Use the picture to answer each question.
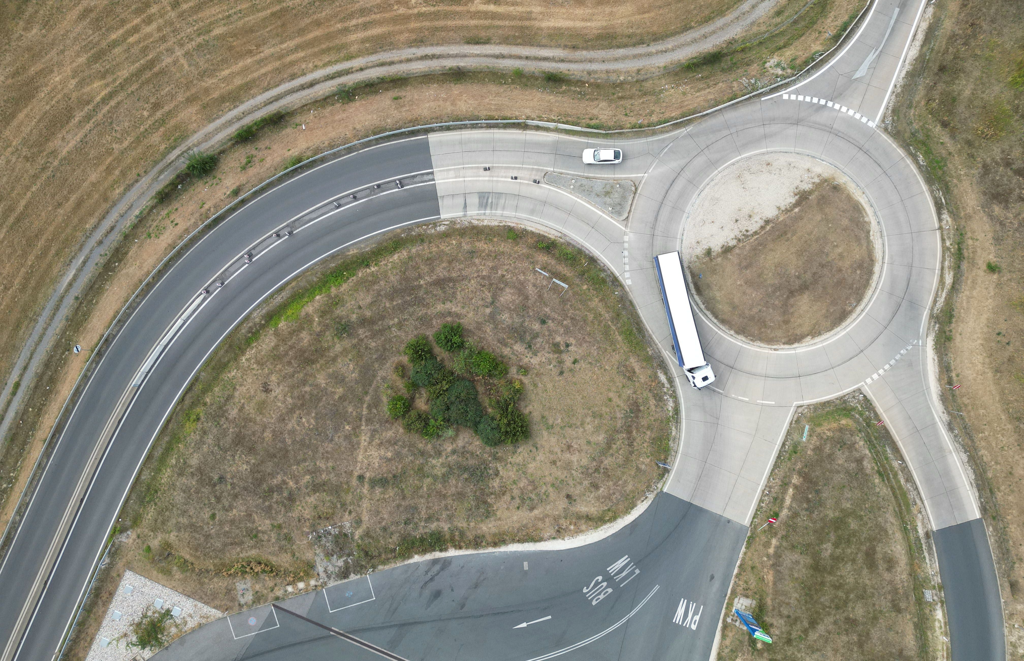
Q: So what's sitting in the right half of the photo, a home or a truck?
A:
truck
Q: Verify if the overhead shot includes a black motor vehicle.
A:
No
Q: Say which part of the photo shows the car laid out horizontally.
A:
top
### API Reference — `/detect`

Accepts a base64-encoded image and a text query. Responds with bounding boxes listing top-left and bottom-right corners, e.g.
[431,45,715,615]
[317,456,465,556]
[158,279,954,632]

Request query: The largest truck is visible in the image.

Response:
[652,251,715,390]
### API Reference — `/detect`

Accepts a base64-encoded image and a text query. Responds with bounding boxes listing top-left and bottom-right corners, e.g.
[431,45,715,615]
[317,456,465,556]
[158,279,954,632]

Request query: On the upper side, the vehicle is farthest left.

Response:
[582,145,622,165]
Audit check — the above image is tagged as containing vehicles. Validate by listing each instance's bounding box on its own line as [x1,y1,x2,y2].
[652,251,715,390]
[582,145,622,165]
